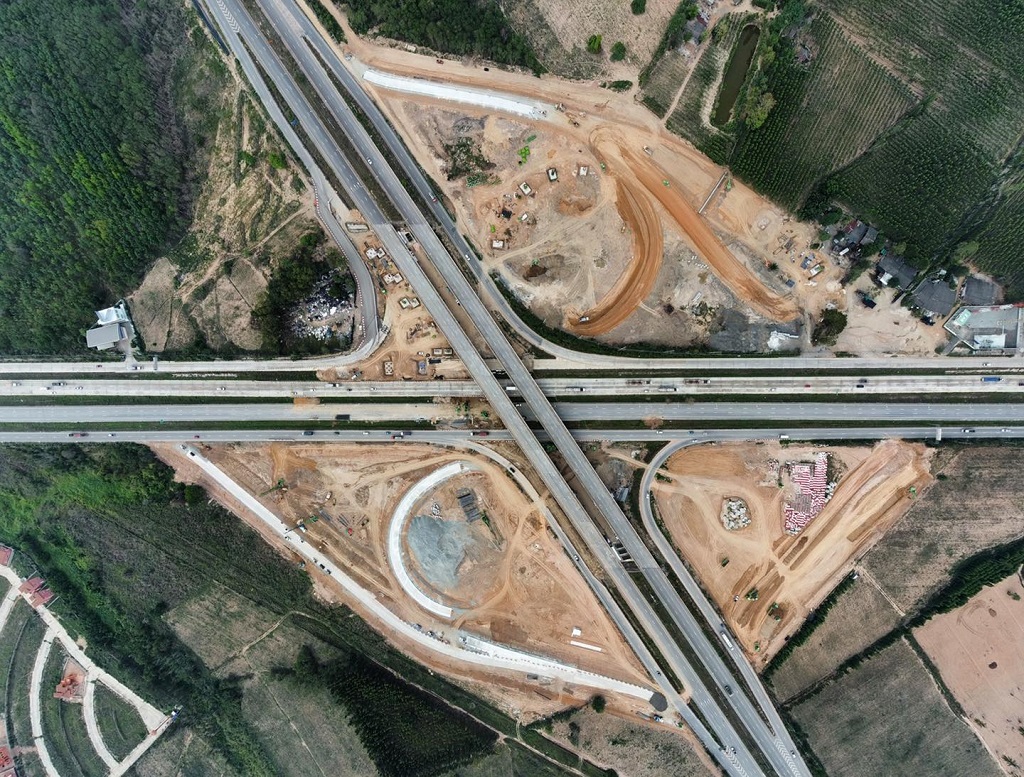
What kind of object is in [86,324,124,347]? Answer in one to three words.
building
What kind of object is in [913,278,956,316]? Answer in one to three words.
house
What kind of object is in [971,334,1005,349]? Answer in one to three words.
building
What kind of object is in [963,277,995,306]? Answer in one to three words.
house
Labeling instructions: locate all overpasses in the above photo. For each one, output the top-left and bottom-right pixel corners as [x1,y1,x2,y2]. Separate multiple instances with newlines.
[365,216,620,573]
